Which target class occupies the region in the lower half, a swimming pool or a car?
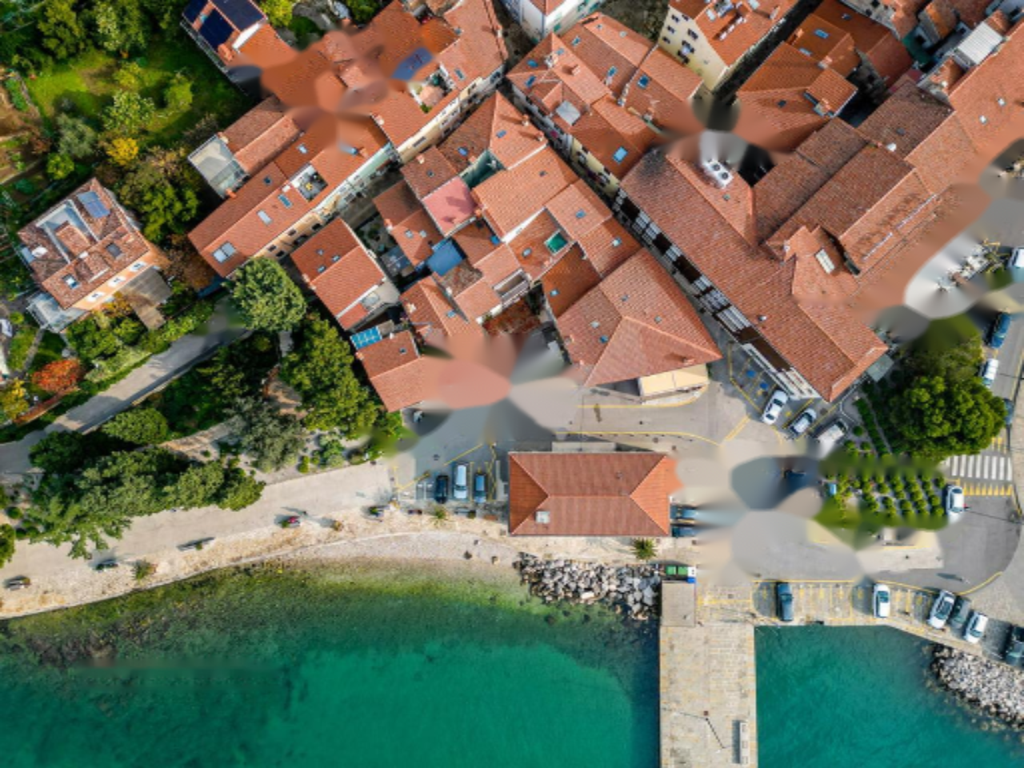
car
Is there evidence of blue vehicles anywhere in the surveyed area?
Yes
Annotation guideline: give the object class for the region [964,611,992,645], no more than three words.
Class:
car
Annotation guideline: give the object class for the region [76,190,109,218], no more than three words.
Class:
solar panel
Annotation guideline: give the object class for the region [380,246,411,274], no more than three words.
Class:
greenhouse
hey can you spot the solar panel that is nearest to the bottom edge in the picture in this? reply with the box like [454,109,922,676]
[350,326,383,349]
